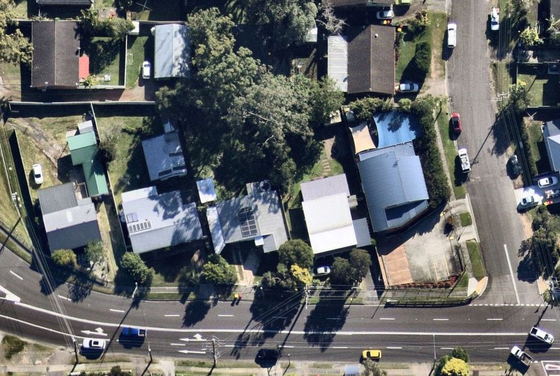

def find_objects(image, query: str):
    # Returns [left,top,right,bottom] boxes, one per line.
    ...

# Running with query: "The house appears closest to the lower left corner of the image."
[37,182,101,252]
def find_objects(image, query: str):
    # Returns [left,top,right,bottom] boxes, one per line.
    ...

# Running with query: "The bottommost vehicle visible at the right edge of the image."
[510,346,535,367]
